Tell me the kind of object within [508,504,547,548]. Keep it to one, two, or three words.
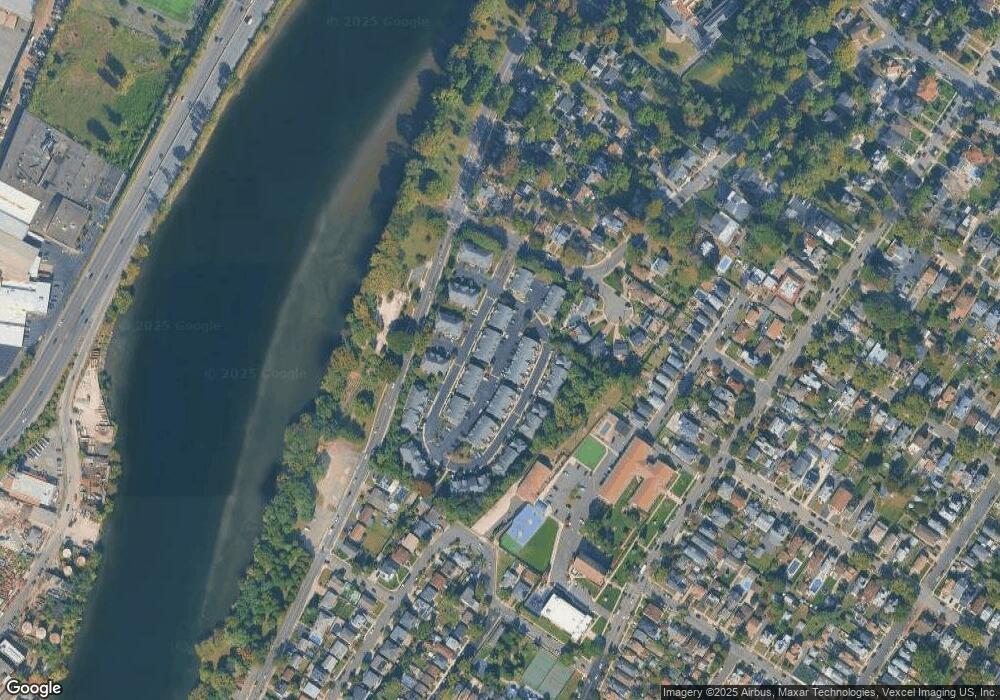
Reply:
basketball court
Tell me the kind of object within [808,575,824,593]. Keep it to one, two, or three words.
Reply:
swimming pool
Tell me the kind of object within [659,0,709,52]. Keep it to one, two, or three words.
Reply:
building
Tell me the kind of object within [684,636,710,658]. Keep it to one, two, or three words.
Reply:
house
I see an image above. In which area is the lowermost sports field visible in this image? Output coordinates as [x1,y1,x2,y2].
[519,515,560,572]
